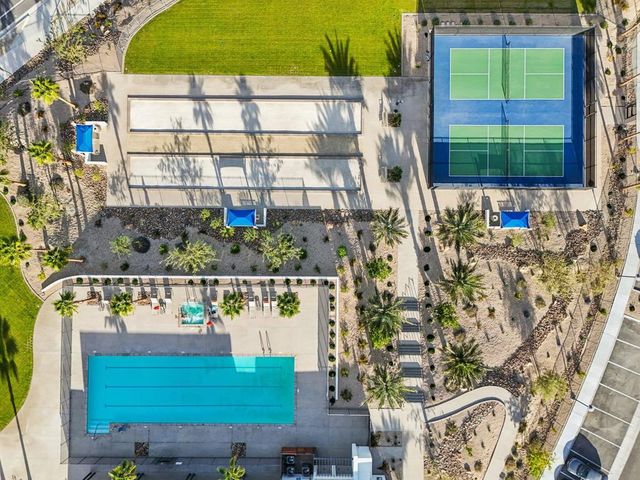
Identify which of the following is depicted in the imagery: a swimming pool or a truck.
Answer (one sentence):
The image shows a swimming pool.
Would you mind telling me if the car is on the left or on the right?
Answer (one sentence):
The car is on the right side of the image.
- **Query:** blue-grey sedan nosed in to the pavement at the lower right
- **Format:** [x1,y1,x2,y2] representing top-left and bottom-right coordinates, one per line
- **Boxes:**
[565,457,608,480]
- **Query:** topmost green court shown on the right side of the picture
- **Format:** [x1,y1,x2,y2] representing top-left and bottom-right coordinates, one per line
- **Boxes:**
[450,41,564,102]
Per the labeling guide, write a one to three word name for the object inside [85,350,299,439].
swimming pool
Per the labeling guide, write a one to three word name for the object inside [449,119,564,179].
sports court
